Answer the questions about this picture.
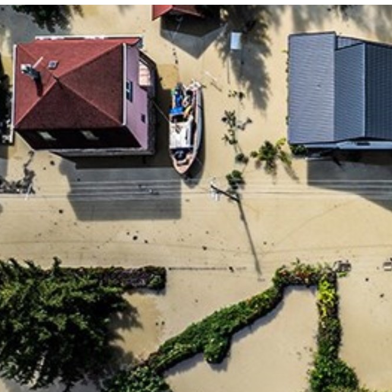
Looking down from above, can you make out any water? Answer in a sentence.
Yes, some water is visible.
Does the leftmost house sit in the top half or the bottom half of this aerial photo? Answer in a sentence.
You can find the leftmost house in the top half.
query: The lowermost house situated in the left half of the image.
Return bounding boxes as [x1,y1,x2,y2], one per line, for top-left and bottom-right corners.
[13,37,157,157]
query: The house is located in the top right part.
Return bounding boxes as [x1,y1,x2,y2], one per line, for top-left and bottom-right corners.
[288,32,392,161]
